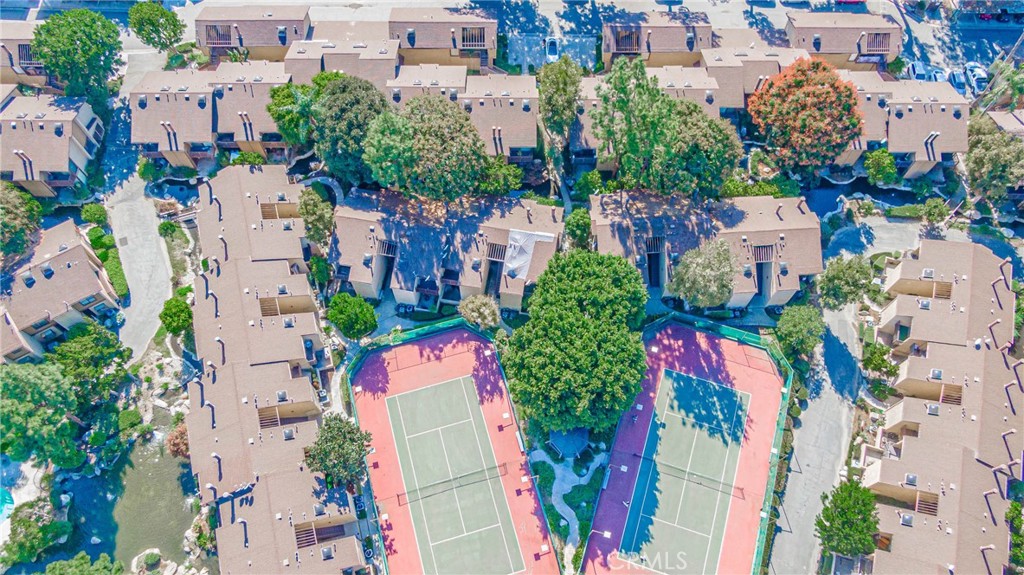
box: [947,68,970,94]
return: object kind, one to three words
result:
car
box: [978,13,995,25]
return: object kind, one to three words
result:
vehicle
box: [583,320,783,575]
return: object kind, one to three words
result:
tennis court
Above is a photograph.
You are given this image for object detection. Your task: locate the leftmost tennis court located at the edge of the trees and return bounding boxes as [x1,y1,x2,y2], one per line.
[349,328,562,575]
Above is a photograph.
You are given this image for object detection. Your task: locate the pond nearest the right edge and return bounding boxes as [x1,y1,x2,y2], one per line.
[800,177,937,227]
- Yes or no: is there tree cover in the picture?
Yes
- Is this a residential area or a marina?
residential area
